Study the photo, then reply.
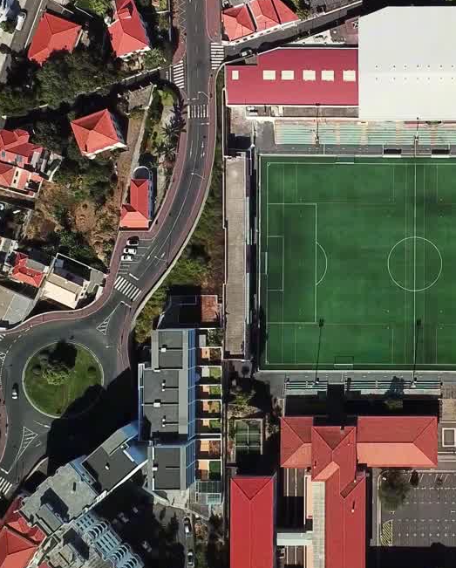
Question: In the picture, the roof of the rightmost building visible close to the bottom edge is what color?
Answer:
red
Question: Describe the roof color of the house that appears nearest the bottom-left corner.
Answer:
red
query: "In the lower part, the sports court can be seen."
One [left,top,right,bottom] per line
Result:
[233,418,262,456]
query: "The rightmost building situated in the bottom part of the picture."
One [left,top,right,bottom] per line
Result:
[280,414,437,568]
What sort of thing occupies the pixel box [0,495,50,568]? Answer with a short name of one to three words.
house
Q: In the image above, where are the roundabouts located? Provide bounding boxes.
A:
[0,316,127,443]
